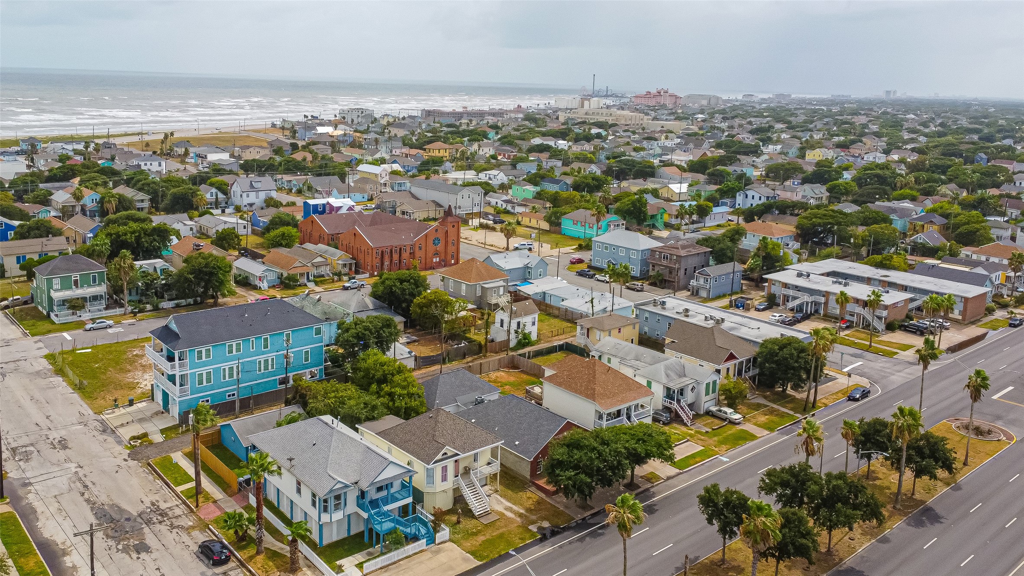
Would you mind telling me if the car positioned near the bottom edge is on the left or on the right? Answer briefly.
left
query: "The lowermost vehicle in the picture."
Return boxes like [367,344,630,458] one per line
[199,540,234,568]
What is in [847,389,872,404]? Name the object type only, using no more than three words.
car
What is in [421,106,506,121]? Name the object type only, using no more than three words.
building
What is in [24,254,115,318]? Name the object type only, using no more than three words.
house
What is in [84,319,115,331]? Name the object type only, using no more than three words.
vehicle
